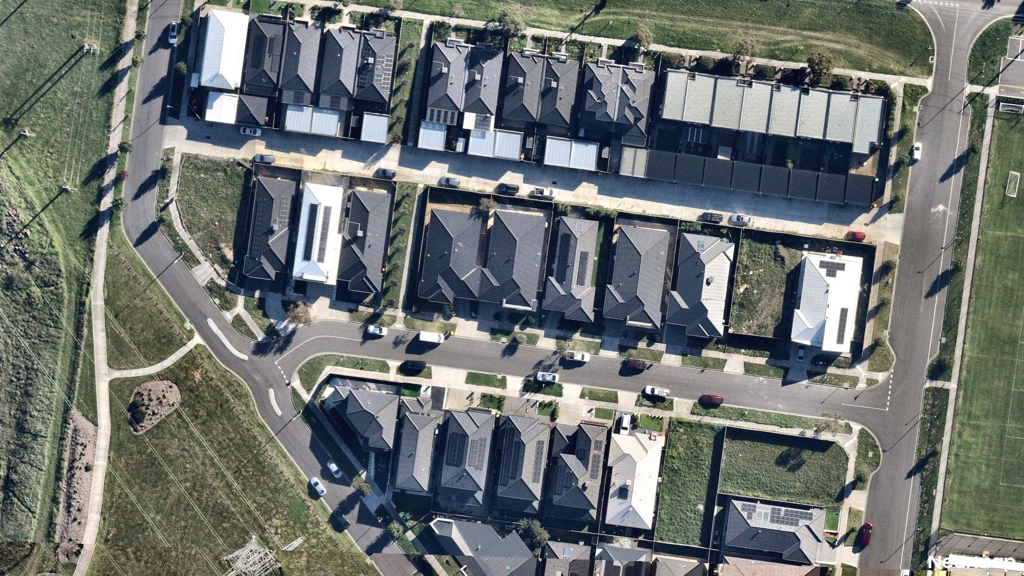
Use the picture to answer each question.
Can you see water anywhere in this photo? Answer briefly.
No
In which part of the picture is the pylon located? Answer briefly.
bottom left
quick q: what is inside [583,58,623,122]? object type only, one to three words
house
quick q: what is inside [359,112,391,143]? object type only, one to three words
building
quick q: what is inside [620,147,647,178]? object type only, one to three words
building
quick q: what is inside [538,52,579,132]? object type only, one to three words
house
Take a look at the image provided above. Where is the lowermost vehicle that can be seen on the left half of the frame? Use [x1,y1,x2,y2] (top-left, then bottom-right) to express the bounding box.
[333,508,350,528]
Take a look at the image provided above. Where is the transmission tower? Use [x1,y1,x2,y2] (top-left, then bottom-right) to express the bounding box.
[221,532,287,576]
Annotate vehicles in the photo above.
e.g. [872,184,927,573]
[847,231,866,240]
[701,394,723,404]
[863,522,873,546]
[731,214,750,224]
[367,326,387,336]
[537,373,559,382]
[333,508,350,528]
[254,154,274,164]
[912,142,922,161]
[419,332,444,342]
[326,459,343,478]
[619,413,630,434]
[702,212,723,222]
[309,476,326,497]
[441,177,460,186]
[498,183,519,194]
[241,126,259,136]
[533,186,556,197]
[566,351,589,361]
[403,361,426,371]
[168,21,178,43]
[376,168,396,178]
[645,387,670,397]
[626,360,647,369]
